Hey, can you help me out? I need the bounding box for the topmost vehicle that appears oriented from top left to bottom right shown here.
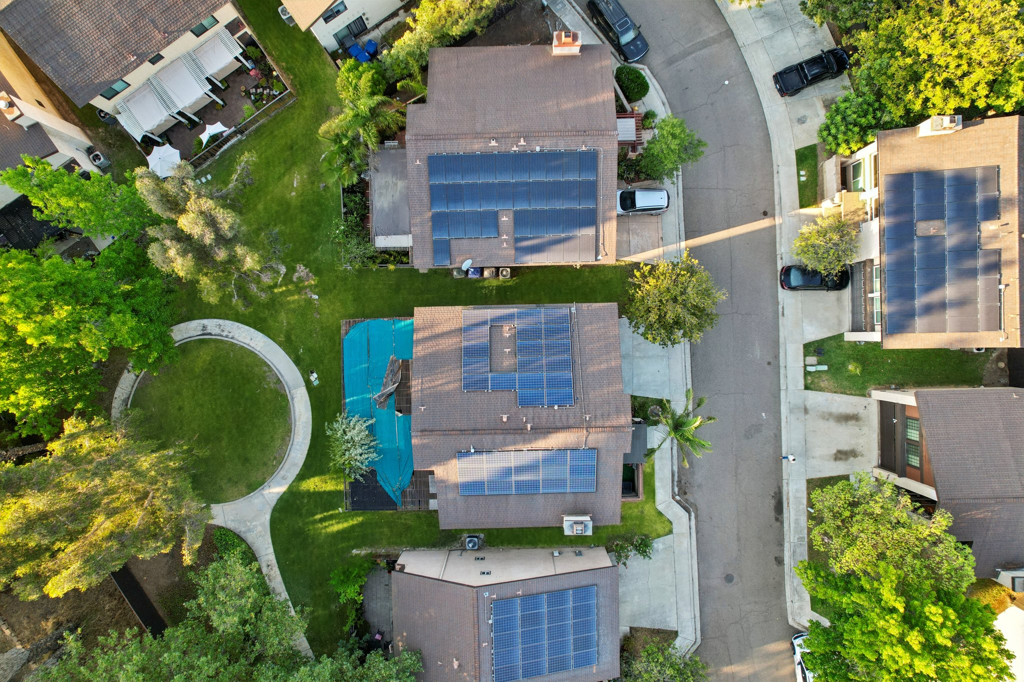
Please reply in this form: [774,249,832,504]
[591,0,646,62]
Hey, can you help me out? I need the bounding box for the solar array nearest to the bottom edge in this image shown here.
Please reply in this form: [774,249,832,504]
[484,586,597,682]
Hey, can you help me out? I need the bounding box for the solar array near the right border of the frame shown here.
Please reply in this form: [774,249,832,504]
[884,165,1005,341]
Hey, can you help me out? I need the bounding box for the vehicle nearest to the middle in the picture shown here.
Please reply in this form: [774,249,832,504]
[617,184,670,218]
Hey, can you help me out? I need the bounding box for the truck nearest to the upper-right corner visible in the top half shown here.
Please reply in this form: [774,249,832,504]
[770,45,855,99]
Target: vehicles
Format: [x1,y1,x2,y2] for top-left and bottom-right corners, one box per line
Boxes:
[781,260,851,294]
[770,45,855,99]
[789,631,820,682]
[591,0,646,62]
[617,184,670,218]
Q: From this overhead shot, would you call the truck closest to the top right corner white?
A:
No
